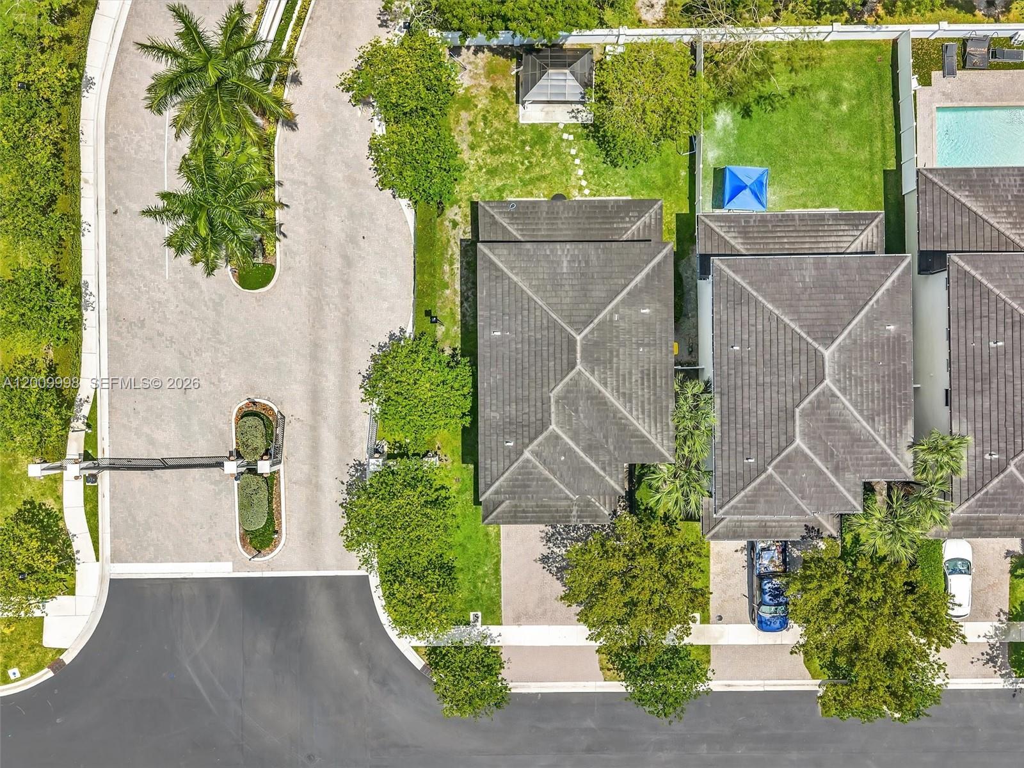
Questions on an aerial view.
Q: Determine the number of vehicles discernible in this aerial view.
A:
2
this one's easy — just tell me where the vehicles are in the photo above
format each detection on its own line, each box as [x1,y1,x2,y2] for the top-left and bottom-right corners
[937,540,978,619]
[753,541,797,634]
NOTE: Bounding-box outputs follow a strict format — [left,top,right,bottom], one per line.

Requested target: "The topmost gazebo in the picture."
[523,48,594,114]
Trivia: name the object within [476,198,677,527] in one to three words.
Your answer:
house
